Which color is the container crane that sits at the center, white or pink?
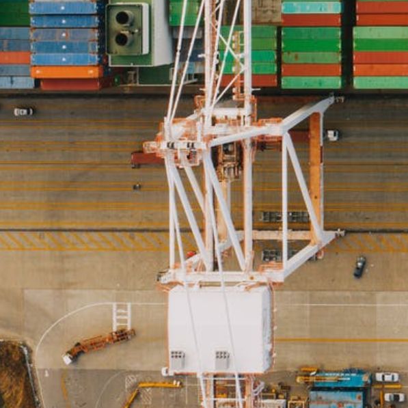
white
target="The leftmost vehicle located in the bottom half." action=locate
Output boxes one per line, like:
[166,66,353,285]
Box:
[65,343,89,365]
